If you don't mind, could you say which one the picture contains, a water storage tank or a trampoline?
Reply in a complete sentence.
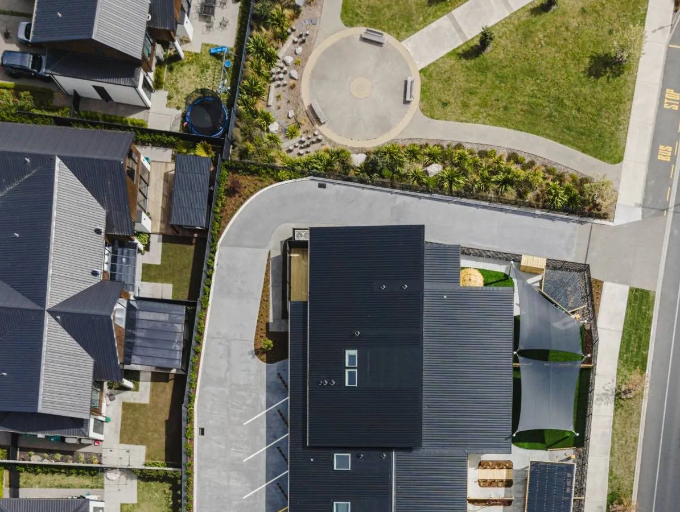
Visible in the photo is a trampoline.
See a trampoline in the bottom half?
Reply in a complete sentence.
No, I can find no trampoline in the bottom half.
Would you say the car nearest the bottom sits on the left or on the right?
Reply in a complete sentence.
The car nearest the bottom sits on the left side.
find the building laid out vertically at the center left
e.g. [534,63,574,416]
[0,123,149,438]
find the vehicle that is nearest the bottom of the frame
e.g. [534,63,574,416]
[0,53,58,89]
